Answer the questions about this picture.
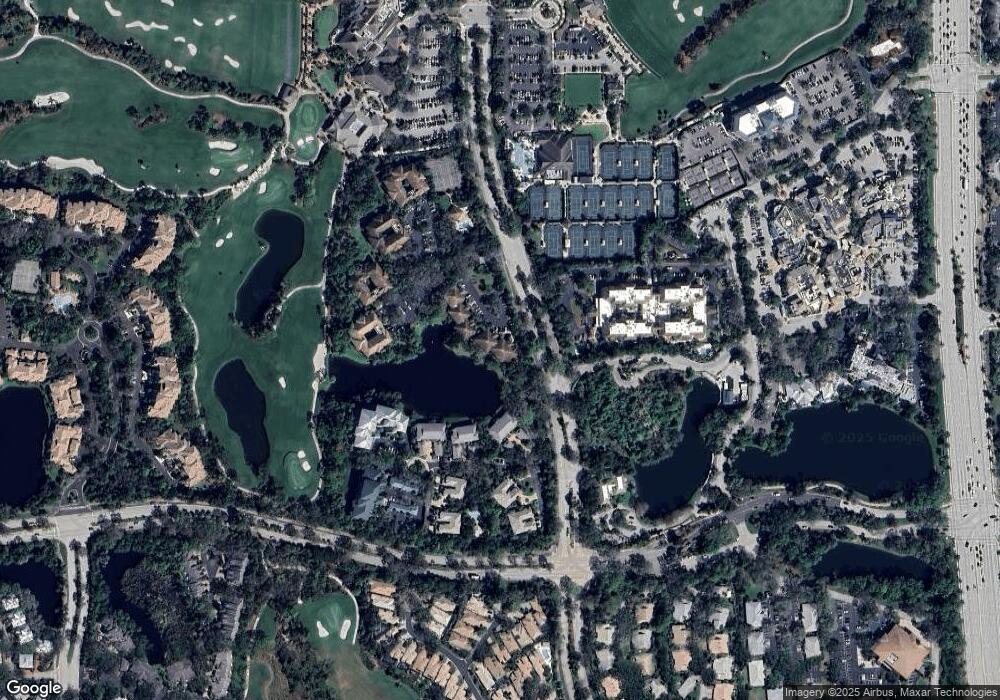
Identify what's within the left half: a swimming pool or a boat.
swimming pool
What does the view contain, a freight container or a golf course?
golf course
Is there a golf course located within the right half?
Yes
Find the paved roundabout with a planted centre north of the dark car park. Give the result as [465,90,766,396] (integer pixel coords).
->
[530,0,562,28]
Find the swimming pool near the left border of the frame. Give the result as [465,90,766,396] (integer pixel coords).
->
[48,288,78,313]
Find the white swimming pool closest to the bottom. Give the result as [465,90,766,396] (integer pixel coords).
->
[534,638,552,671]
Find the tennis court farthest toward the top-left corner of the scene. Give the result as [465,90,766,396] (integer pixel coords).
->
[13,260,41,293]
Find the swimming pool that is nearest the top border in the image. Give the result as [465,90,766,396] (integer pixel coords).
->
[508,138,536,186]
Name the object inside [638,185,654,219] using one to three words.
tennis court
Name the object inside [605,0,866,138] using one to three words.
golf course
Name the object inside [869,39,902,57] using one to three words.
building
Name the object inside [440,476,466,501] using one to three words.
house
